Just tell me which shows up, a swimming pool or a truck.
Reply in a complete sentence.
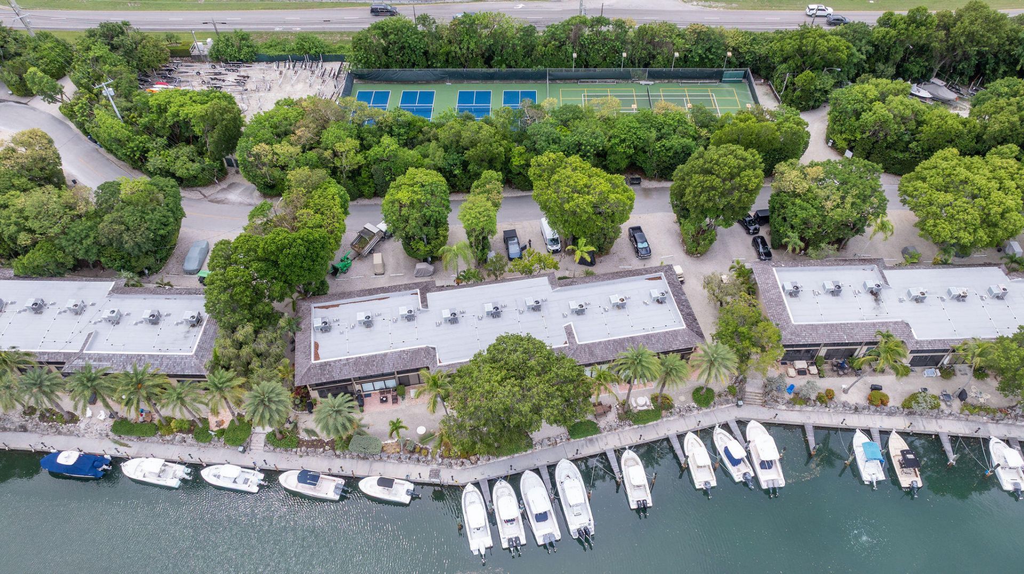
This aerial view contains a truck.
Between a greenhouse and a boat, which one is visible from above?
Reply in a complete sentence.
There is a boat in the scene.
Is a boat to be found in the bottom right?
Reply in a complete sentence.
Yes, the scene does show a boat in the bottom right.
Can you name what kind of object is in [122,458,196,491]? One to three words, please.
boat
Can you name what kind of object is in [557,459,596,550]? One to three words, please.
boat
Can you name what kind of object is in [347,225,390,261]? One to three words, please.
truck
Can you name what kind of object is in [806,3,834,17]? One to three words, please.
car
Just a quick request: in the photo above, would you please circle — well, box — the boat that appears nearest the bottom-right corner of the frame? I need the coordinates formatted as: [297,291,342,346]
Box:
[987,438,1024,501]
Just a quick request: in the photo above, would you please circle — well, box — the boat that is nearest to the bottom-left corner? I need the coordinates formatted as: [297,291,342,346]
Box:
[40,452,119,481]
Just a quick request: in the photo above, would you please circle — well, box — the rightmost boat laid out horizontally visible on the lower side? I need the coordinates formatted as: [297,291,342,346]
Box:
[359,478,423,507]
